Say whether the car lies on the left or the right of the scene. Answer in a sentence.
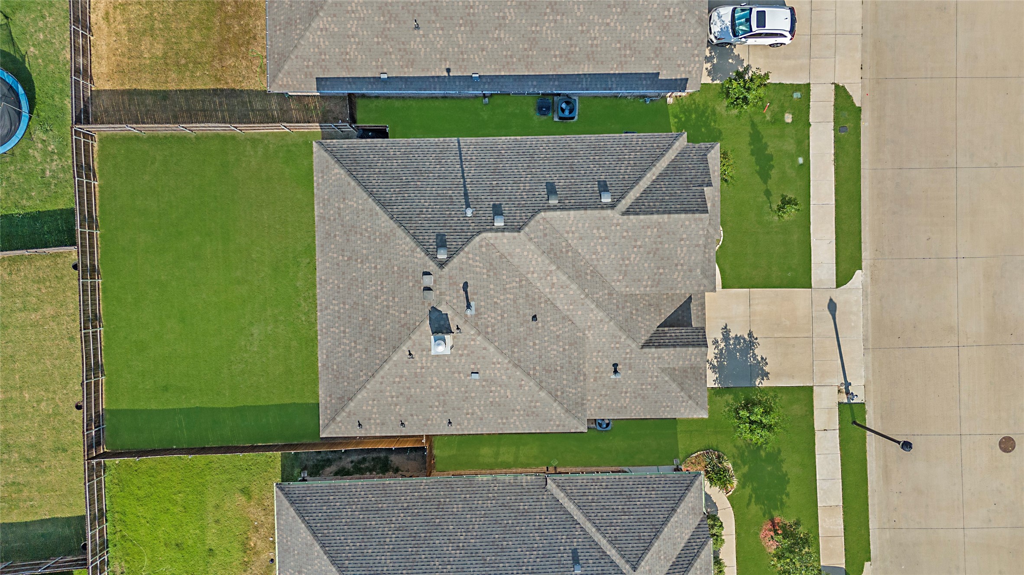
The car sits on the right side.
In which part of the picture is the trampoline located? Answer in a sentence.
The trampoline is in the top left part of the image.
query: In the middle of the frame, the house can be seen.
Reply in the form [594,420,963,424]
[312,131,723,439]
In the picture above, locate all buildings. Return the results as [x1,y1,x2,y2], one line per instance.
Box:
[272,458,715,575]
[264,0,709,103]
[312,131,723,439]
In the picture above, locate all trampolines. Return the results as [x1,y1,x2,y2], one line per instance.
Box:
[0,66,45,158]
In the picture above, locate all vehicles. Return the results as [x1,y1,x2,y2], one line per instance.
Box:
[708,0,797,46]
